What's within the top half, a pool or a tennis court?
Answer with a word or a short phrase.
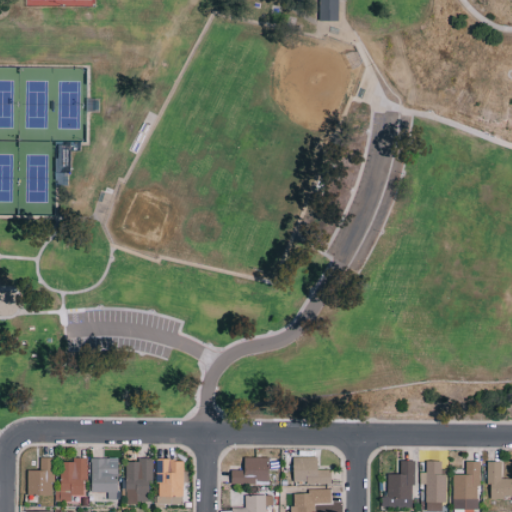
tennis court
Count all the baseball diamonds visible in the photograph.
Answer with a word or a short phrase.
2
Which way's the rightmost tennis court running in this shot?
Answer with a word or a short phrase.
vertically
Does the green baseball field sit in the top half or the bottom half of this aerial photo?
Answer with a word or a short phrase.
top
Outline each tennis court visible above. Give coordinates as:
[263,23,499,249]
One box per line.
[0,81,16,128]
[0,154,13,202]
[26,81,48,129]
[58,81,81,129]
[26,154,48,202]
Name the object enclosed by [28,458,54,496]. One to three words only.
house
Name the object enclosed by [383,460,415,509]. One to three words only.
house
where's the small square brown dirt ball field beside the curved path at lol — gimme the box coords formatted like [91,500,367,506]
[118,188,173,247]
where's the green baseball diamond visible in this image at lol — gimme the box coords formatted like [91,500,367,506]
[110,16,349,277]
